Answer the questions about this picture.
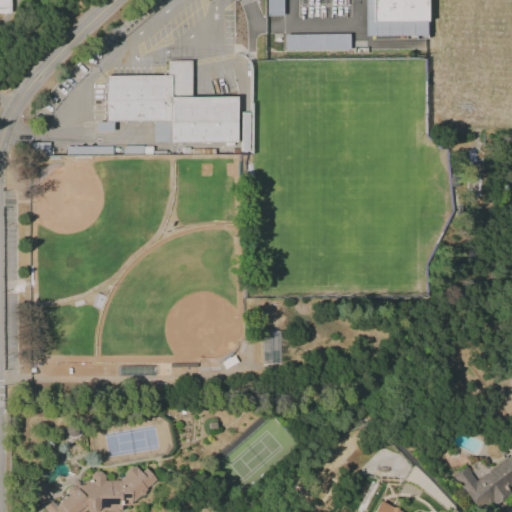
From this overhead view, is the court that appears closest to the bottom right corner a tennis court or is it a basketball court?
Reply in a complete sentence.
It turns out the court that appears closest to the bottom right corner is a tennis court.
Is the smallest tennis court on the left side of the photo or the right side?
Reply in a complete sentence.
The smallest tennis court appears in the left half of the scene.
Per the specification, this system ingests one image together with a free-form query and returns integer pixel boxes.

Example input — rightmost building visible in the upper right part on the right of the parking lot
[368,0,432,36]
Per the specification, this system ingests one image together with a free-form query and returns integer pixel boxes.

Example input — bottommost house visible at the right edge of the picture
[448,459,512,510]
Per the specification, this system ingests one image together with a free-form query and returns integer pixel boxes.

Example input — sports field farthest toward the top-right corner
[246,60,454,297]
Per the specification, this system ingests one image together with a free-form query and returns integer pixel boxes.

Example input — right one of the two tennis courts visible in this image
[222,418,296,484]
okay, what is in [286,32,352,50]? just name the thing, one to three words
shed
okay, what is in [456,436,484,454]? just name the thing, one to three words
swimming pool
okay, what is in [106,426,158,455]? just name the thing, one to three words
tennis court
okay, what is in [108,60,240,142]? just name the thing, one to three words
building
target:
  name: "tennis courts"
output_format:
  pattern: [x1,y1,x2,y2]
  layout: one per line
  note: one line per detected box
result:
[222,418,296,484]
[106,426,158,455]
